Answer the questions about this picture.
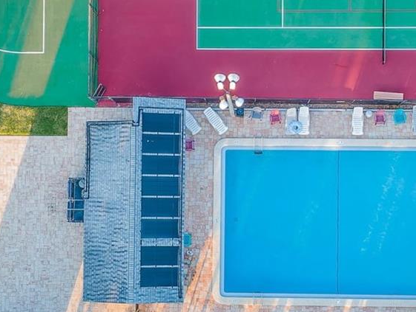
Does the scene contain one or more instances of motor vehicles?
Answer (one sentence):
No, no motor vehicle is visible in the scene.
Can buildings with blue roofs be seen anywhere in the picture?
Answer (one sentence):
Yes, looking at the shot, I can spot a building with a blue roof.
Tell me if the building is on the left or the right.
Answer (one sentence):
It is on the left.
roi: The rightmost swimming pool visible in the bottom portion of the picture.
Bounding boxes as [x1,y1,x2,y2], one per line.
[213,138,416,307]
